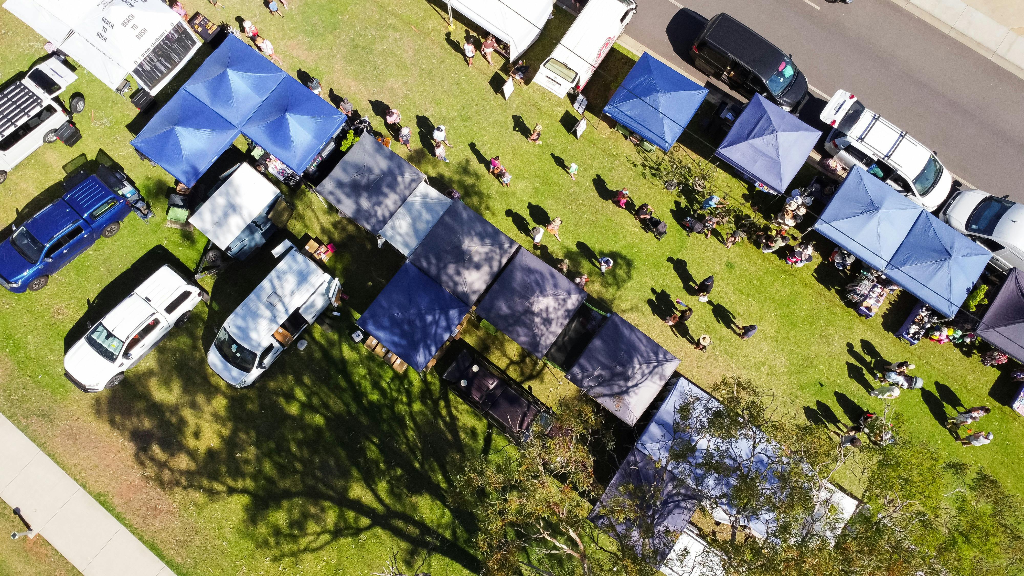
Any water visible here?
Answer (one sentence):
No, the picture contains no water.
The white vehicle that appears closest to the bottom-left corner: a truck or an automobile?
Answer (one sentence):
The white vehicle that appears closest to the bottom-left corner can be classified as a truck.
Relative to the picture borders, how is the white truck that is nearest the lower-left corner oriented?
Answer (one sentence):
In this picture, the white truck that is nearest the lower-left corner lies at an angle.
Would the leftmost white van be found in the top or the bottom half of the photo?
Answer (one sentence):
The top half of the photo is where the leftmost white van is.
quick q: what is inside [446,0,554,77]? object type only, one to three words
tent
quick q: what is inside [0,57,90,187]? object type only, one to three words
van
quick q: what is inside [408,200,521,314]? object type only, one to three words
gazebo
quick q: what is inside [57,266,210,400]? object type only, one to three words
truck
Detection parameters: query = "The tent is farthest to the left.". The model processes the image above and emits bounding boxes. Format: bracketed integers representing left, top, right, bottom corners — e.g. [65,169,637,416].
[2,0,89,74]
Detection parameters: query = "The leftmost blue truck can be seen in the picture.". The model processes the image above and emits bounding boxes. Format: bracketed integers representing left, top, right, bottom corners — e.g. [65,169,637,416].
[0,168,137,301]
